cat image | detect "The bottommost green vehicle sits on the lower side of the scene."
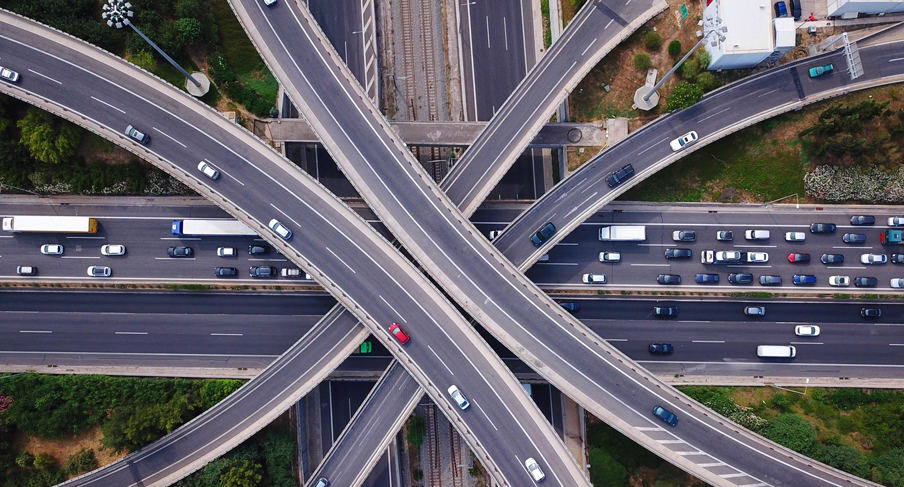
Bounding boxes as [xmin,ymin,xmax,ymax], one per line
[350,340,376,356]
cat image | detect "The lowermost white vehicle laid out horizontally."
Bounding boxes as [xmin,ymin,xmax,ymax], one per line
[757,346,795,358]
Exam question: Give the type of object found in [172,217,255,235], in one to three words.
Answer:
vehicle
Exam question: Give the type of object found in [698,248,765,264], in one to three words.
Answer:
vehicle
